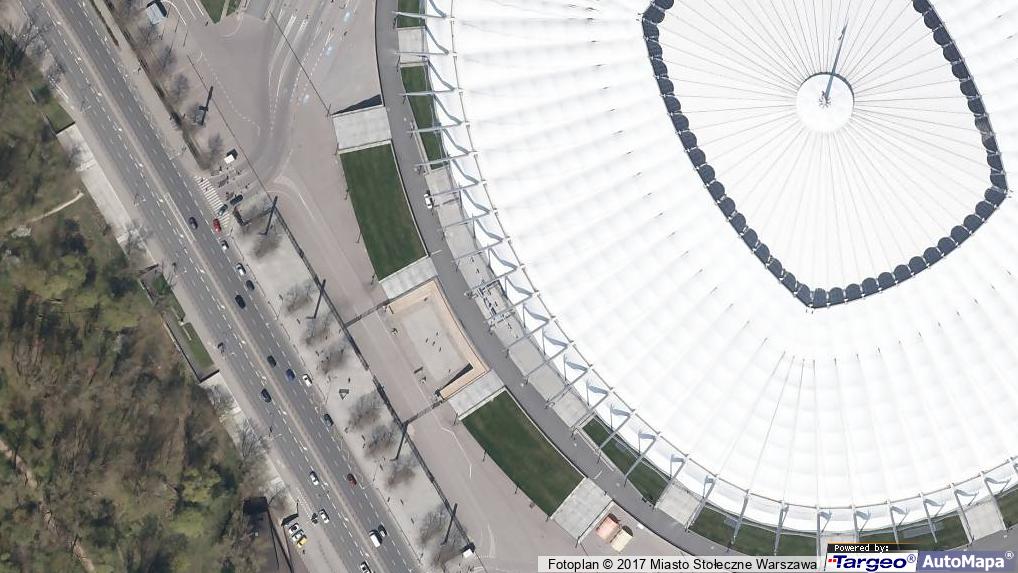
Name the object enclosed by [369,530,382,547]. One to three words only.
vehicle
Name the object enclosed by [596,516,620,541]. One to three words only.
tent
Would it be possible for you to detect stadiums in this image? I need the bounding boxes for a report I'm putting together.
[392,0,1018,564]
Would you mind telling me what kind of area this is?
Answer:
sports ground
